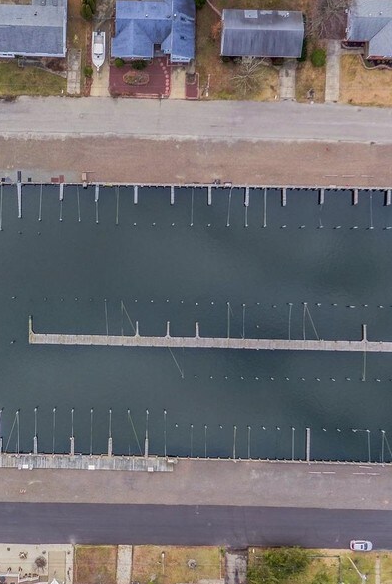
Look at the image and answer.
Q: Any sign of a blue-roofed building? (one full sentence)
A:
Yes, this view includes a blue-roofed building.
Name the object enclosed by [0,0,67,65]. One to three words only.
house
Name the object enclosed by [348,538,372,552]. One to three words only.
vehicle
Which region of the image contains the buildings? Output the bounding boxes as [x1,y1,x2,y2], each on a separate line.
[0,0,67,65]
[344,0,392,61]
[222,9,308,60]
[110,0,196,63]
[0,572,19,584]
